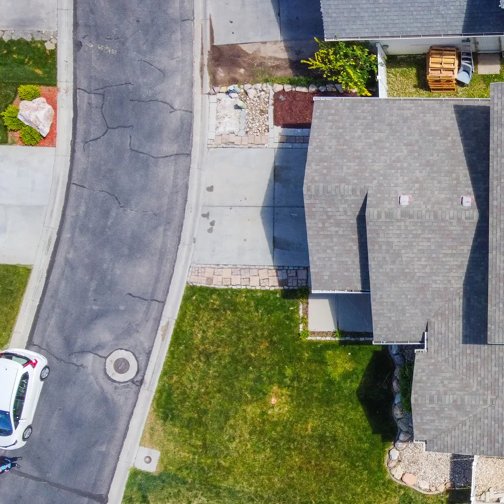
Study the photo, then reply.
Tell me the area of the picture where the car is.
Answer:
bottom left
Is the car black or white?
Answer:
white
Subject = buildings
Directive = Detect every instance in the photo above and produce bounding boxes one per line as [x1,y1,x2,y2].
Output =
[319,0,504,60]
[301,83,504,459]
